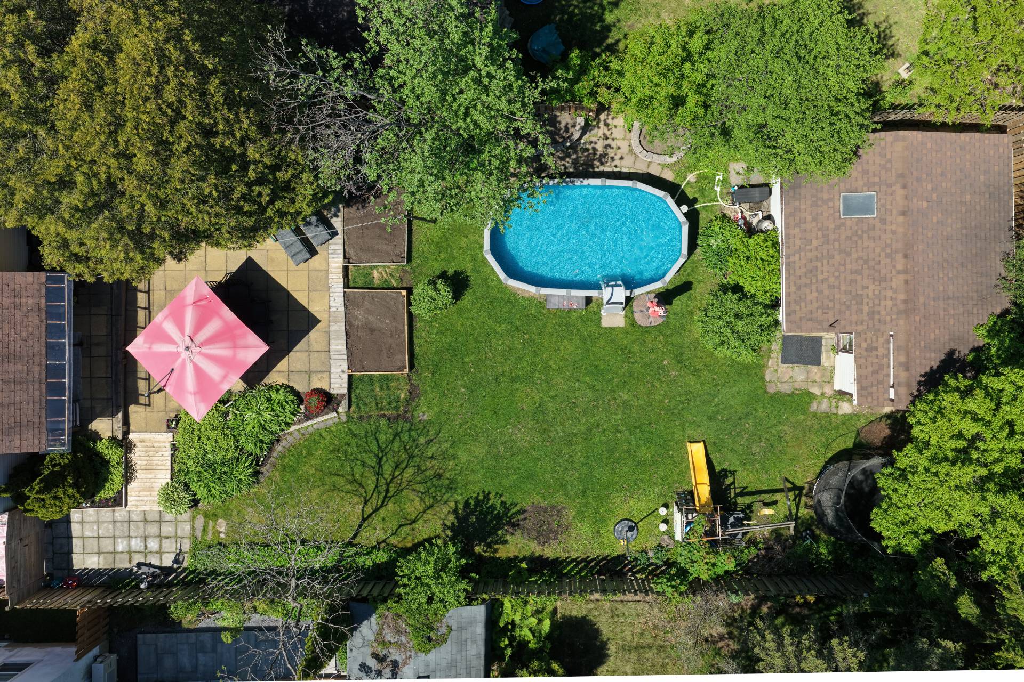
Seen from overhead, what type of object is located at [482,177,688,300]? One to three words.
swimming pool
